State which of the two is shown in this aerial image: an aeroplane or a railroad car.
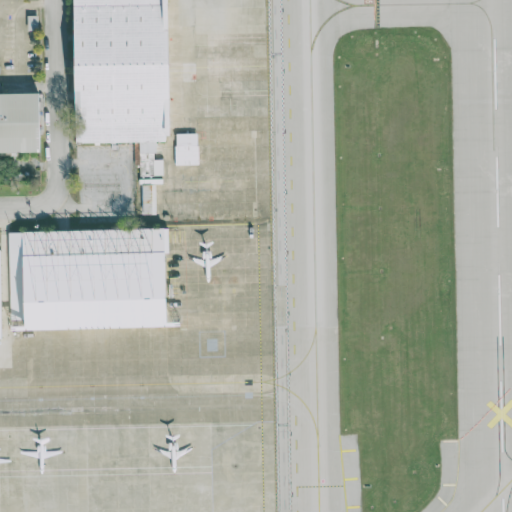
aeroplane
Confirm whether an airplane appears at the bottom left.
Yes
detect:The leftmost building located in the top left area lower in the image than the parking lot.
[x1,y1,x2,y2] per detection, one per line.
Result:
[0,94,42,153]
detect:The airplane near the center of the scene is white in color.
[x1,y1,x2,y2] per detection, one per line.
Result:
[189,242,226,282]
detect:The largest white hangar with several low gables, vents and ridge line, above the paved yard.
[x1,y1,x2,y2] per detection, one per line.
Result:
[74,0,170,145]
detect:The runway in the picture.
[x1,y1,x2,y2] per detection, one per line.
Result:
[422,0,512,512]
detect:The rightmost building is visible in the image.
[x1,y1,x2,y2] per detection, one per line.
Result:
[176,134,200,166]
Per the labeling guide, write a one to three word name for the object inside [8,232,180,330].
hangar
